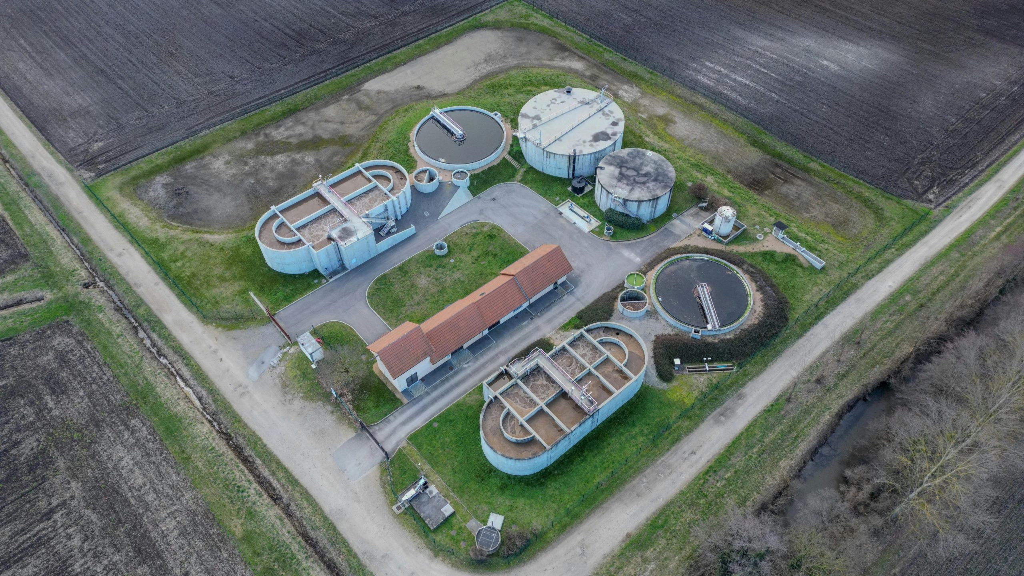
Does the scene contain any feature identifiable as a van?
No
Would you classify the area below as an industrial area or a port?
industrial area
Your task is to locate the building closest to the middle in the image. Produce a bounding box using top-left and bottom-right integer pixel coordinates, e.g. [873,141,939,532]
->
[367,243,575,391]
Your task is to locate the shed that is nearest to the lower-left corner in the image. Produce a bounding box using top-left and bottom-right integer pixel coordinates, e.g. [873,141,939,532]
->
[297,332,324,363]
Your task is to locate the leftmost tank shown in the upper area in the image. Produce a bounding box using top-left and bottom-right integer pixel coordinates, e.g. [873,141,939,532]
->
[257,159,417,282]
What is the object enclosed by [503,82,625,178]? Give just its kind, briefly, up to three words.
storage tank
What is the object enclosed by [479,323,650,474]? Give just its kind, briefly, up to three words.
storage tank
